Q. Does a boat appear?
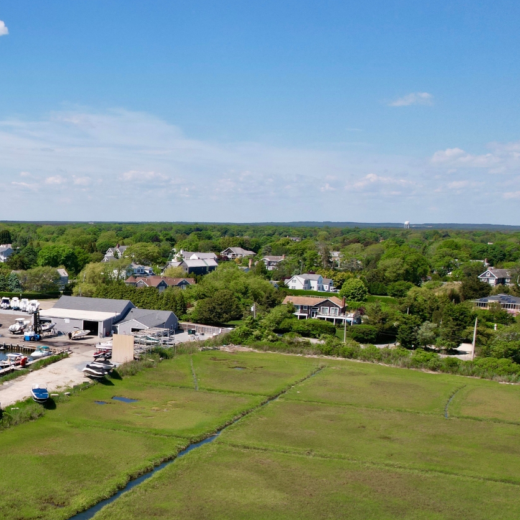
Yes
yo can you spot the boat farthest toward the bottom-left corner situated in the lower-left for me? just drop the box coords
[28,378,49,396]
